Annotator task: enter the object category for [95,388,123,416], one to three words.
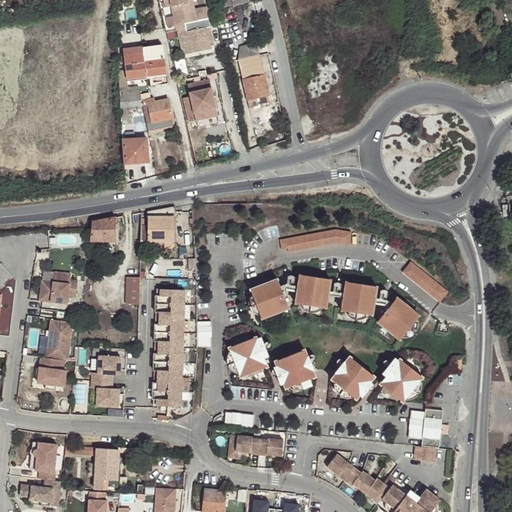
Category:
house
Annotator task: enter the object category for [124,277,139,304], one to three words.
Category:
shed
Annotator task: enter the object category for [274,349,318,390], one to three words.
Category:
building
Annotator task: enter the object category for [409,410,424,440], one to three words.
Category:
building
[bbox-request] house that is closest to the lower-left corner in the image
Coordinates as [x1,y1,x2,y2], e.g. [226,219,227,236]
[19,482,60,512]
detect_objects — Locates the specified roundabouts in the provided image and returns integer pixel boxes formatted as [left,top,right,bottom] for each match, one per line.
[357,80,500,222]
